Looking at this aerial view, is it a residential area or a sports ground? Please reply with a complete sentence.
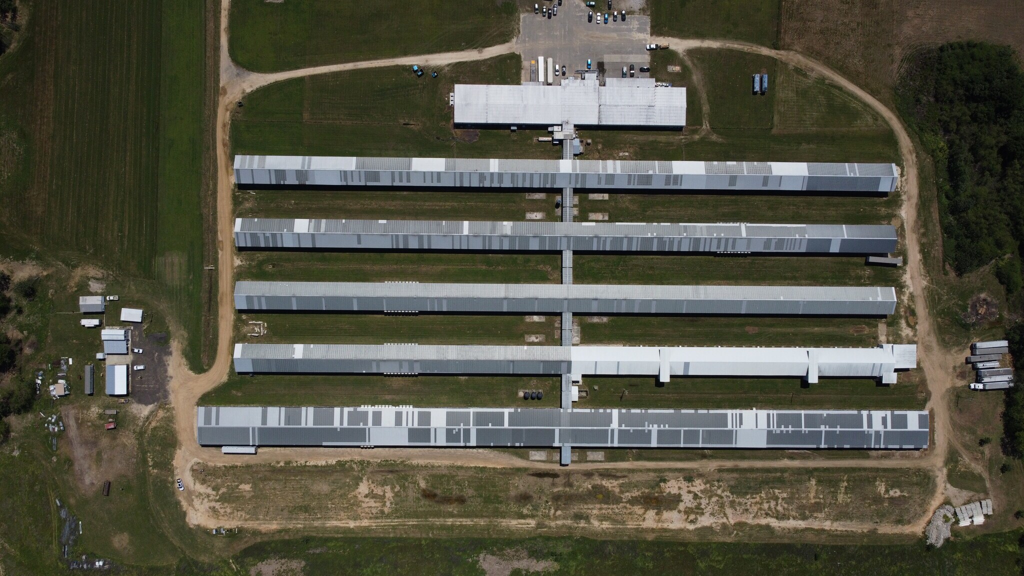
The area seen from above is a residential area.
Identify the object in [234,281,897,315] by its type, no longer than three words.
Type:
house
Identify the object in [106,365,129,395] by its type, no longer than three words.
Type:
building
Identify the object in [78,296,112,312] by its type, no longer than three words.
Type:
house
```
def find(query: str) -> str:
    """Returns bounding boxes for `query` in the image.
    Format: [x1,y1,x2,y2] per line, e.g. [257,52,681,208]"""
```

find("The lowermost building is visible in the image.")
[196,406,931,448]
